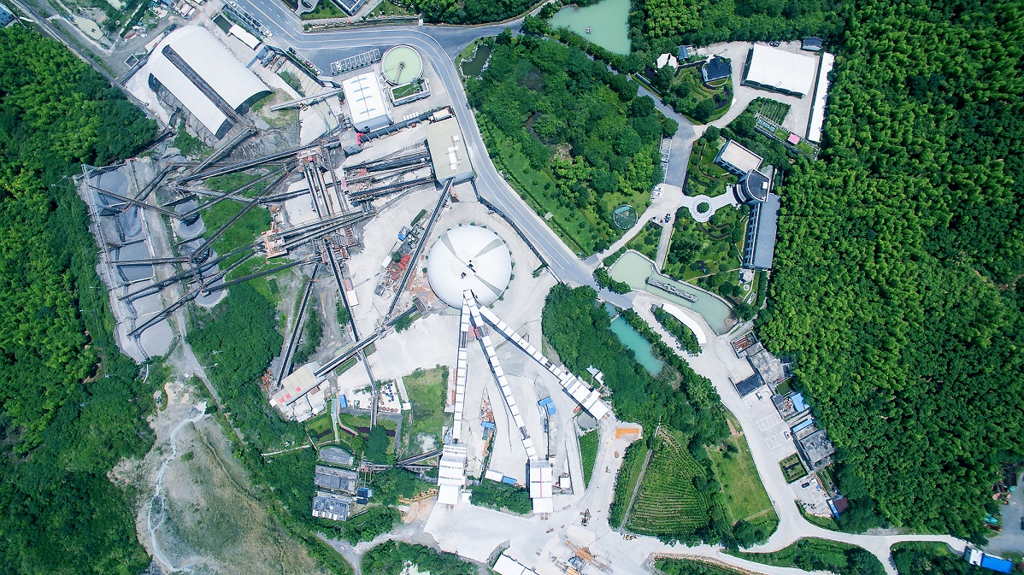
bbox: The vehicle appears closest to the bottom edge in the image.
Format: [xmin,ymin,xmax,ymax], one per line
[568,556,587,573]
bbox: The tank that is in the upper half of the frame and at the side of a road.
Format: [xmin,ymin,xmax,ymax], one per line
[380,41,424,85]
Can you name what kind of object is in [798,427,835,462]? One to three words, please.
house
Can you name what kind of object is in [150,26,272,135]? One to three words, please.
shed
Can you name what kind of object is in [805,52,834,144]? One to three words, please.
shed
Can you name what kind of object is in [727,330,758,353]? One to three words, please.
building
